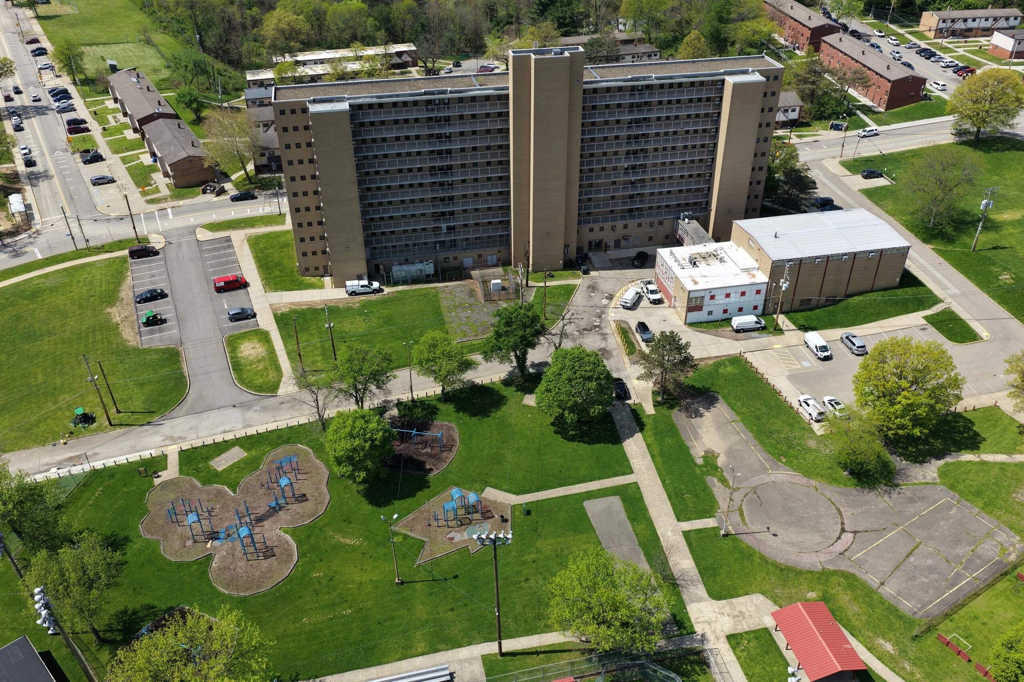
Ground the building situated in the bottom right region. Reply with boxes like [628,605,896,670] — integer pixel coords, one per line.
[771,598,875,682]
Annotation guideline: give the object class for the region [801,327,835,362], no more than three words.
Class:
van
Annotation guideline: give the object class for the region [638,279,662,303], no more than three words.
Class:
truck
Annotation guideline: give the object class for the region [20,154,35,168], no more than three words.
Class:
car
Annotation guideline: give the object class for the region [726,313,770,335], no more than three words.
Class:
vehicle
